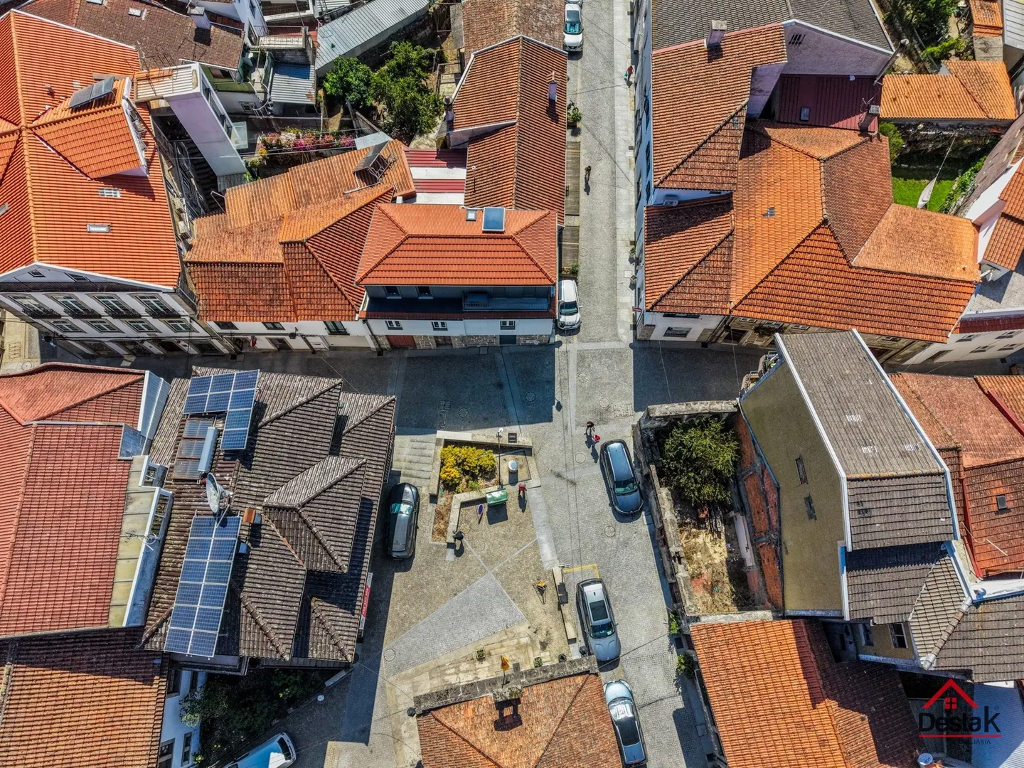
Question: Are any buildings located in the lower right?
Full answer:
Yes, the scene does show a building in the lower right.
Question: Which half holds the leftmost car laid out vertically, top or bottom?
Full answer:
It is in the bottom half that the leftmost car laid out vertically appears.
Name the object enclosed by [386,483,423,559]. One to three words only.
car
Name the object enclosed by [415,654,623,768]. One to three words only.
house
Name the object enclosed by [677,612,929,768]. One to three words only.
house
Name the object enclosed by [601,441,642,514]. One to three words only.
car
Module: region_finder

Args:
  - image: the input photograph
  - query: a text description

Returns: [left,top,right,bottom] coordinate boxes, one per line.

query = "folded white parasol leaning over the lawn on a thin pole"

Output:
[914,139,955,208]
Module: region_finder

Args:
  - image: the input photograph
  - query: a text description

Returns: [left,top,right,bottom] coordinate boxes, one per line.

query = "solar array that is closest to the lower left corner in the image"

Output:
[164,516,241,657]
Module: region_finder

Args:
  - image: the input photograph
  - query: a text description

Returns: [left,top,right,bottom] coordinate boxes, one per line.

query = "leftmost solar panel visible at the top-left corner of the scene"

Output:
[70,77,115,111]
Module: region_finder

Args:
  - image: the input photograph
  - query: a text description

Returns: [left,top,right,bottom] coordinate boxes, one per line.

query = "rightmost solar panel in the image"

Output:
[473,208,504,232]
